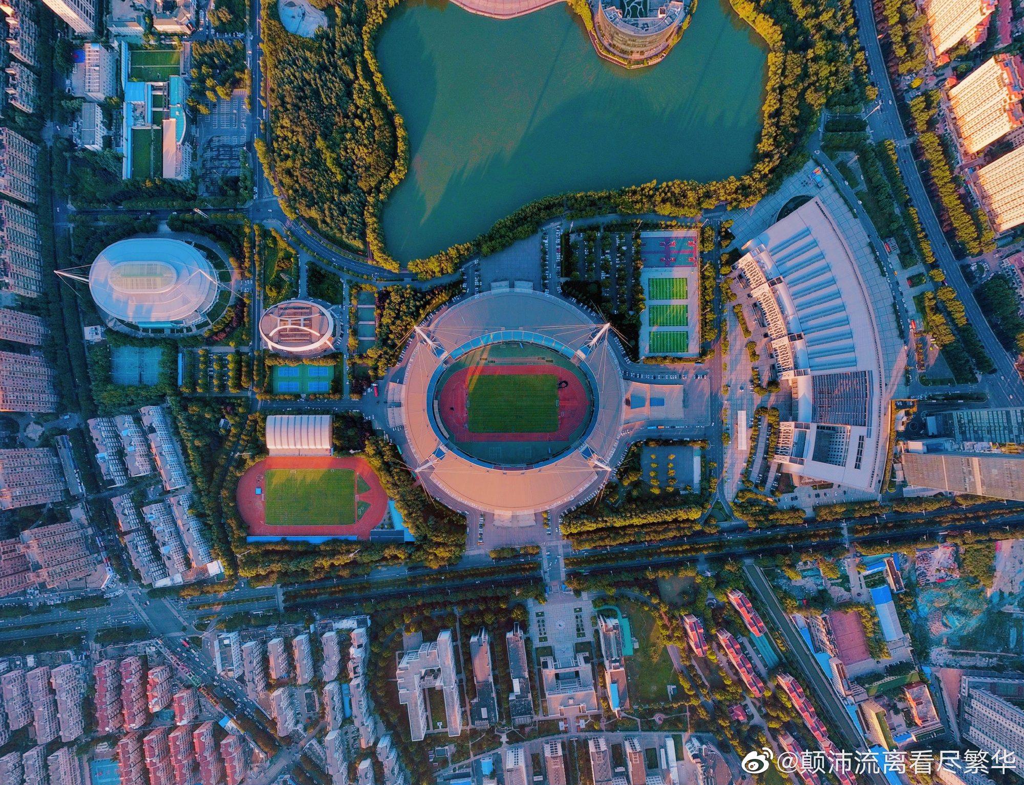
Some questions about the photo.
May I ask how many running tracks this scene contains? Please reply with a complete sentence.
My tally gives 2 running tracks in this view.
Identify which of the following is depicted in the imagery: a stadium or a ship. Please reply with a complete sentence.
Of the two, only a stadium appears.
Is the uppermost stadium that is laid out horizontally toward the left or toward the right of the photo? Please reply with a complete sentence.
The uppermost stadium that is laid out horizontally sits on the left side.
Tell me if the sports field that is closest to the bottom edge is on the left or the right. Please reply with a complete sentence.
The sports field that is closest to the bottom edge sits on the left side.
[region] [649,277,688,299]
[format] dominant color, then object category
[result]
green soccer field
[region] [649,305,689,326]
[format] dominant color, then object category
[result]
green soccer field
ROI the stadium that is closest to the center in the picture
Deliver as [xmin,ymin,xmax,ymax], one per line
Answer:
[387,280,633,527]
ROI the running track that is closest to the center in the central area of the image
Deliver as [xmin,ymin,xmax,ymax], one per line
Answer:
[435,342,592,466]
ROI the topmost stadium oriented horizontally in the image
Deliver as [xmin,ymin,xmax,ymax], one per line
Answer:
[55,238,243,329]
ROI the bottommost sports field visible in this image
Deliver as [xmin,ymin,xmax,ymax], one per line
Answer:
[265,469,355,525]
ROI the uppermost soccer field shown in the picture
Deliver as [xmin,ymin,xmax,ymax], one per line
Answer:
[131,48,181,81]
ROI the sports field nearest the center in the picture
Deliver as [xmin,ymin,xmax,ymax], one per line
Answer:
[468,374,558,433]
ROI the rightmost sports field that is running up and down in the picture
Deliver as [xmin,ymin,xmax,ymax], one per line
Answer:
[640,230,700,357]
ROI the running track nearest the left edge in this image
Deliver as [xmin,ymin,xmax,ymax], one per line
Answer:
[236,457,387,541]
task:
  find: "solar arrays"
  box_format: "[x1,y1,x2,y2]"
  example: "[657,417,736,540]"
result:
[811,371,865,426]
